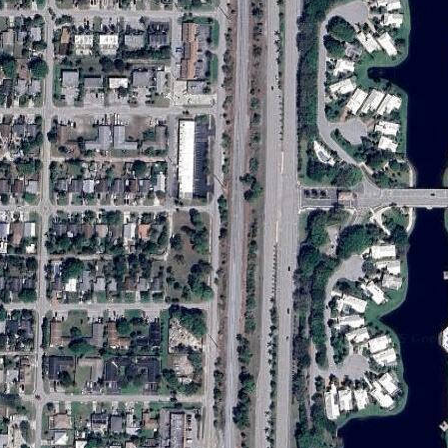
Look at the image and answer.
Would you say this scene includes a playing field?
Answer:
No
